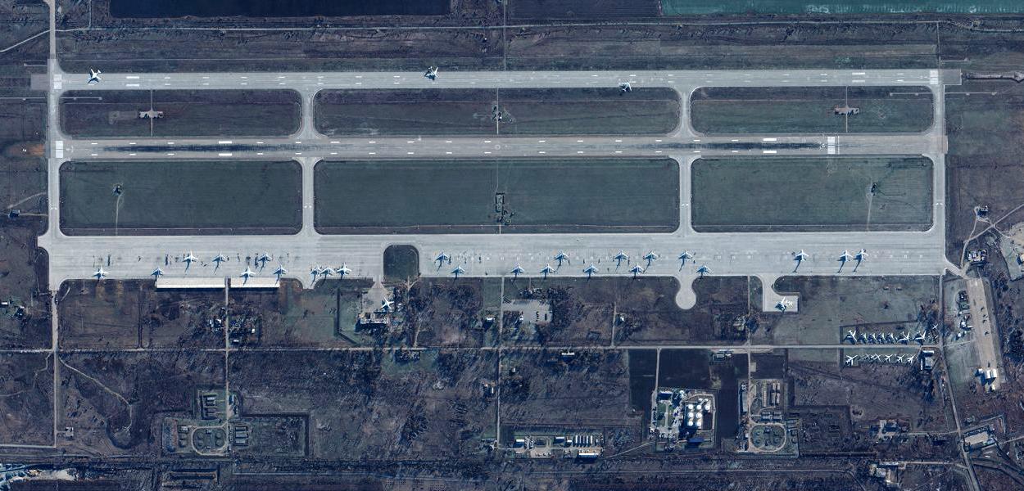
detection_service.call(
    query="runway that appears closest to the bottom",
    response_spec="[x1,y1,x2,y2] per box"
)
[48,136,931,158]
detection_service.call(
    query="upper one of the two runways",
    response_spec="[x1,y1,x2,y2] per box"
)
[54,69,940,90]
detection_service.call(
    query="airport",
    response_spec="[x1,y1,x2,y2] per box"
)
[31,59,999,392]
